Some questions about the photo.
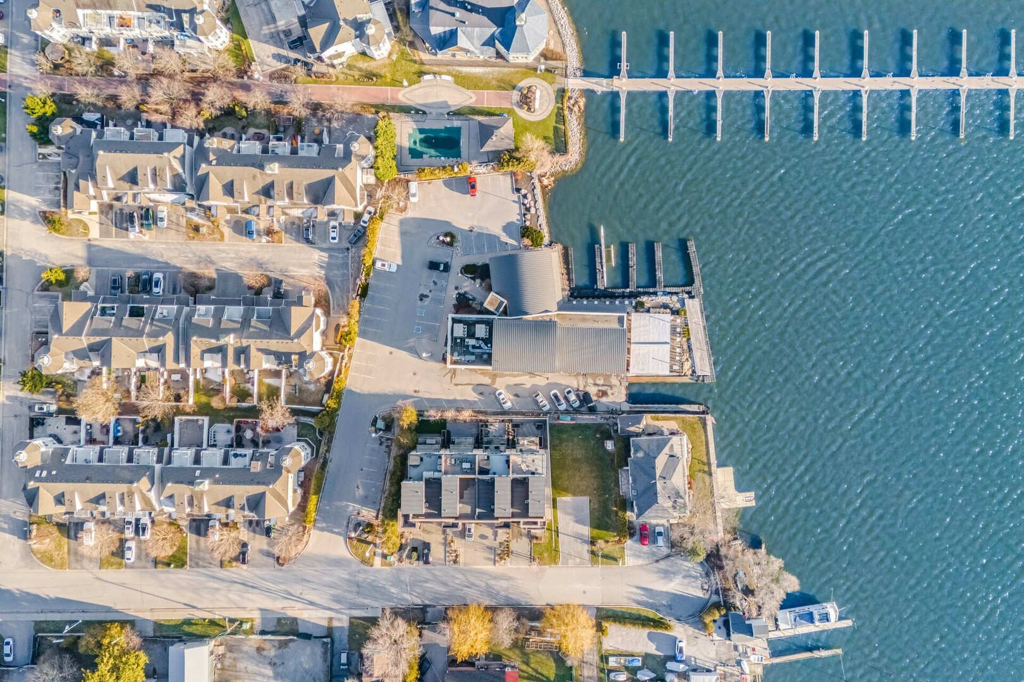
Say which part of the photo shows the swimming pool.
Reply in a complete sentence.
The swimming pool is located in the top region of the scene.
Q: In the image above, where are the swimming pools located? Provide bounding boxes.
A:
[400,121,468,165]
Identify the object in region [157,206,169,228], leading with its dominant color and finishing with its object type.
white vehicle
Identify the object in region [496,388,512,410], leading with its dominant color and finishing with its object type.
white car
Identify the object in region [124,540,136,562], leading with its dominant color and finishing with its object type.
white vehicle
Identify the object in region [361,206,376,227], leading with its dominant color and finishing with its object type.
white car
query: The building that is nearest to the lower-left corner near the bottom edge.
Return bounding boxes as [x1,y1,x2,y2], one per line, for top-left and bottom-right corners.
[168,637,218,682]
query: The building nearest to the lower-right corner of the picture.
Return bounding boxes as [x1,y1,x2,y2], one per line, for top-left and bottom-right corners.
[725,608,769,643]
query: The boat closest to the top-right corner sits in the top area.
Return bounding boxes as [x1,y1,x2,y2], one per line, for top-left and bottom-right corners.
[602,226,614,287]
